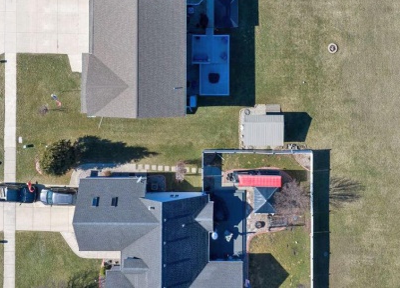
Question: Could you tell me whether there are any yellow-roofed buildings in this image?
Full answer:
No, the photo shows no yellow-roofed building.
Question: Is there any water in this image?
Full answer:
No, water can't be seen anywhere here.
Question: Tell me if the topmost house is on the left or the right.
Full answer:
The topmost house sits on the left side.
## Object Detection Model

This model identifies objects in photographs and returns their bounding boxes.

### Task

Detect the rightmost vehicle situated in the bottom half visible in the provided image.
[40,188,76,206]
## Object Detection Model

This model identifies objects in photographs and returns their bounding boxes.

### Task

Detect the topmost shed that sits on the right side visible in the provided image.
[245,115,286,148]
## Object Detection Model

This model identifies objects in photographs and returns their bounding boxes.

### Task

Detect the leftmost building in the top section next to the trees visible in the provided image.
[80,0,188,129]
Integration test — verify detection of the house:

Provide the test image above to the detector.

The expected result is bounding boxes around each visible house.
[80,0,188,129]
[72,175,244,288]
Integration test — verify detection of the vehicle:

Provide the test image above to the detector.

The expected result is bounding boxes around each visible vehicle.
[40,188,76,206]
[0,184,38,203]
